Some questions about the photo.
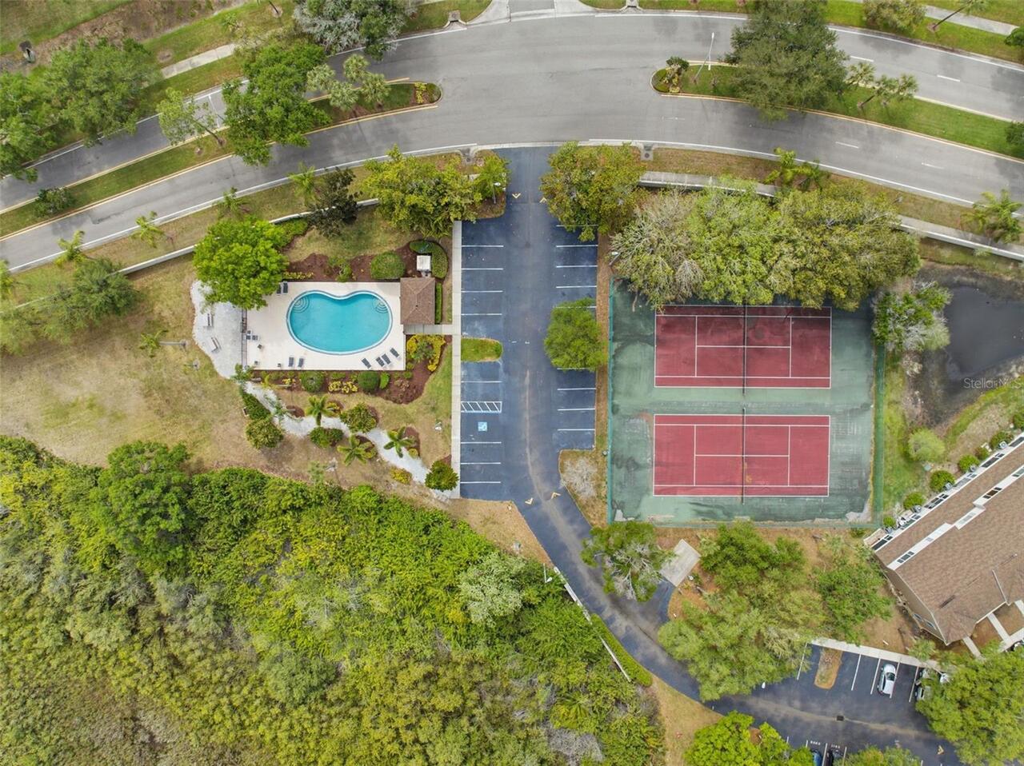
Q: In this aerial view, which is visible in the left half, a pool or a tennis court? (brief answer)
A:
pool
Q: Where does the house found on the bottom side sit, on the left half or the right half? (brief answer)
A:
right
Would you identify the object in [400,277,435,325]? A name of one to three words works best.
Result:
shed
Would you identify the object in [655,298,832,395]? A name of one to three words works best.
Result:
tennis court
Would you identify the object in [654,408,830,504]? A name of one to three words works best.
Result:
tennis court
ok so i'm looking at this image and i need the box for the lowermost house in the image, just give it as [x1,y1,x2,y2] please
[872,434,1024,647]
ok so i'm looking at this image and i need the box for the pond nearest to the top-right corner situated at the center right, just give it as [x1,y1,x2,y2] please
[939,282,1024,397]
